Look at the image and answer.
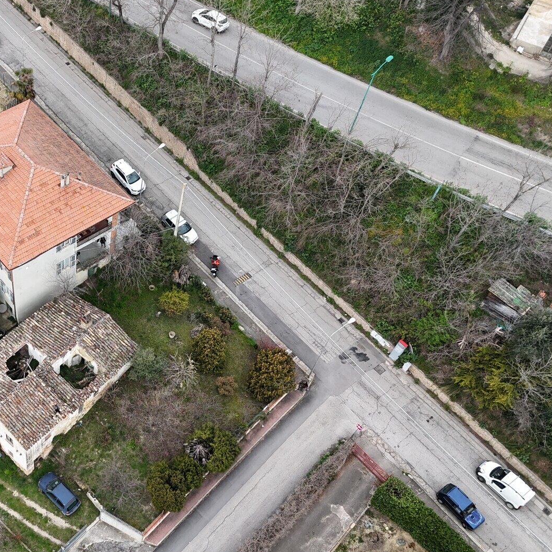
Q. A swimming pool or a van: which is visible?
van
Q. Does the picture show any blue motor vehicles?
Yes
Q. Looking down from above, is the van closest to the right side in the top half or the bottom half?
bottom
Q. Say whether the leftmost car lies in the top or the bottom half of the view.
bottom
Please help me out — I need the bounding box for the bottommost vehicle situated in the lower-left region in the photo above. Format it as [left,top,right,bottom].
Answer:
[37,471,84,521]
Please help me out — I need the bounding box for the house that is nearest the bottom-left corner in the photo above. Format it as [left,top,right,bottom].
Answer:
[0,287,141,474]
